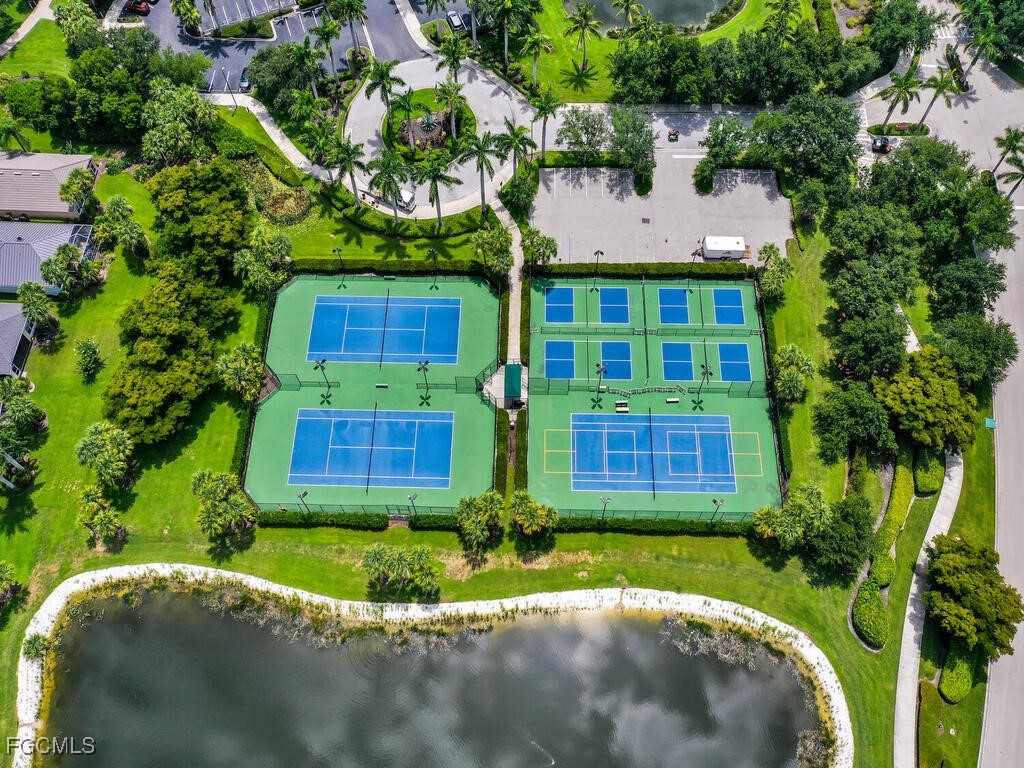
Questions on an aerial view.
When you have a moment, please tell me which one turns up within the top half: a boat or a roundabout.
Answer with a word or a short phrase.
roundabout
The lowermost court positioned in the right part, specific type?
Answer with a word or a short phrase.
tennis court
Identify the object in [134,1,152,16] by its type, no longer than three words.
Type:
car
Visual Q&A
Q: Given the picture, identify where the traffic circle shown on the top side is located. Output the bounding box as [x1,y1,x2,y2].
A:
[381,86,478,166]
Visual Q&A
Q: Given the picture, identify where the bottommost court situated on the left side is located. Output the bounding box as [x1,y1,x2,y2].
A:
[244,387,495,515]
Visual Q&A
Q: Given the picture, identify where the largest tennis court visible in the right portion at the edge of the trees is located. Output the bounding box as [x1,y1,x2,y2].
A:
[528,391,781,515]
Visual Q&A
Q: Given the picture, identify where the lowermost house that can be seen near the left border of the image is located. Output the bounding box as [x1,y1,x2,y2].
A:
[0,303,44,386]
